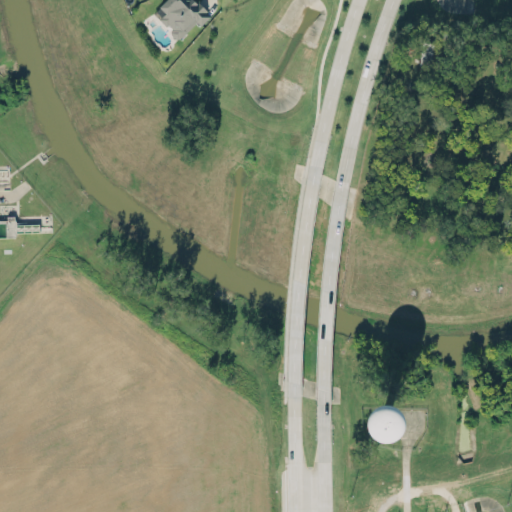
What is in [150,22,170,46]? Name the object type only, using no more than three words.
swimming pool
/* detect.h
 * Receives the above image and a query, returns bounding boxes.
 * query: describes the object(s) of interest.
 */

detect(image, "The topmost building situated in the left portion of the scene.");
[152,0,213,44]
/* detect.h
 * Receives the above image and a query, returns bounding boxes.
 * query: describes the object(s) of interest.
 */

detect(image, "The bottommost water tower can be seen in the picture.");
[368,404,406,444]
